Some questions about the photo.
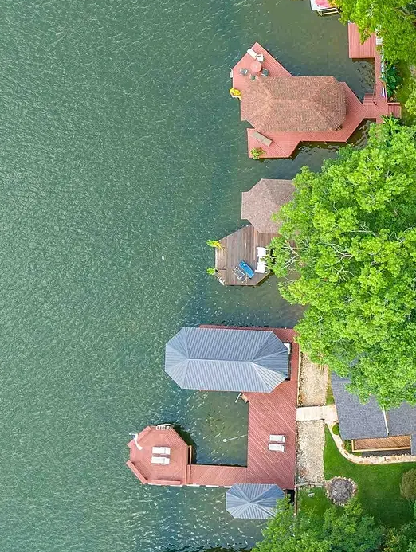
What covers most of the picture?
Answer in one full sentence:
Most of the picture is covered by water.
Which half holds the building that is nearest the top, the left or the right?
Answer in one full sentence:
The building that is nearest the top sits on the right side.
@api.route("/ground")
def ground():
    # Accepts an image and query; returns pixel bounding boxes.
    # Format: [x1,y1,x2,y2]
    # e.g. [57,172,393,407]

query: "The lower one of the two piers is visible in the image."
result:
[123,425,250,487]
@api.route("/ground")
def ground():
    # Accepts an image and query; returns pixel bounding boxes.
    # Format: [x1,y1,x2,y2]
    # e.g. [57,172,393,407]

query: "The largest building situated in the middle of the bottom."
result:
[165,324,300,489]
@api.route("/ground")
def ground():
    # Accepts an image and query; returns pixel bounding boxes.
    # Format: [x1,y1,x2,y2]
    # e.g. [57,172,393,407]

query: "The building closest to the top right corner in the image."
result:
[232,42,369,160]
